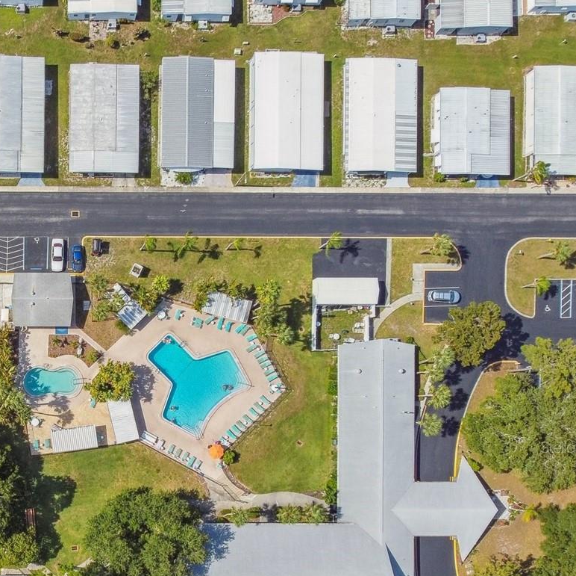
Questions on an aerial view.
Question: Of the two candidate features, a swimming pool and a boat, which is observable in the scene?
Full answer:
This aerial view contains a swimming pool.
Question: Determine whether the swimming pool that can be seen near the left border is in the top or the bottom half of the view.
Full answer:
The bottom half of the photo is where the swimming pool that can be seen near the left border is.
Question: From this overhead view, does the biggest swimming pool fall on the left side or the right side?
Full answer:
The biggest swimming pool appears in the left half of the scene.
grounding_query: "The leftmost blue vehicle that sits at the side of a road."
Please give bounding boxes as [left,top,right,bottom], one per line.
[71,245,84,273]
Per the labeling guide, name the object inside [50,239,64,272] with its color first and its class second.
white vehicle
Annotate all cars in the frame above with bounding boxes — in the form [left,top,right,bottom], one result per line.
[428,289,458,303]
[50,239,64,272]
[71,245,84,273]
